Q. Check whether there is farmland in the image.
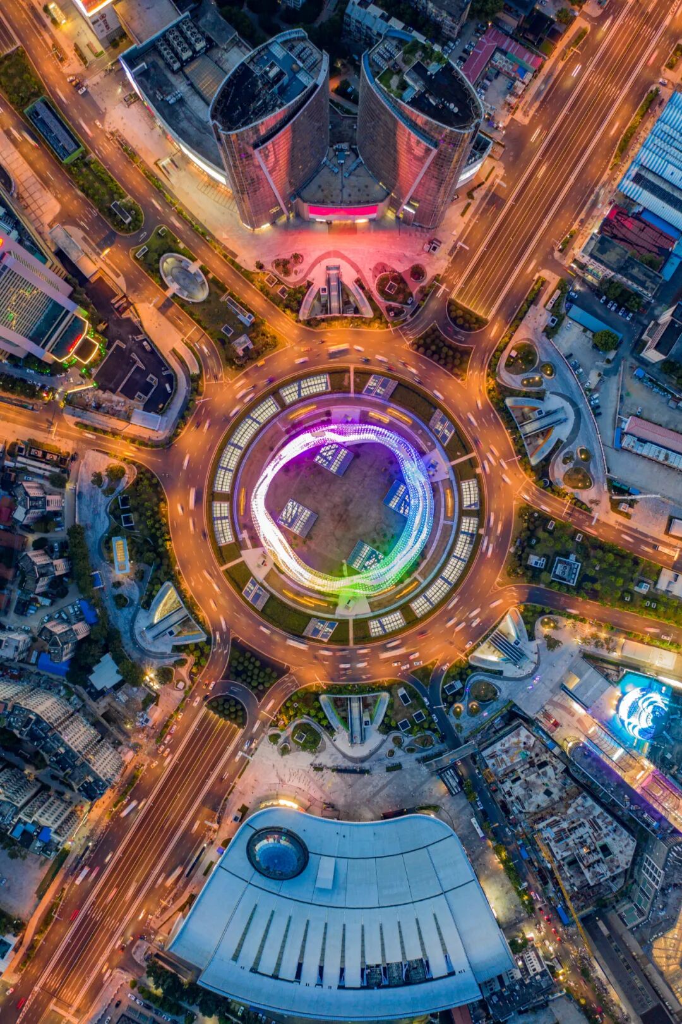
No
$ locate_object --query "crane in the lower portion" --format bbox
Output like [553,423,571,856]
[527,826,594,957]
